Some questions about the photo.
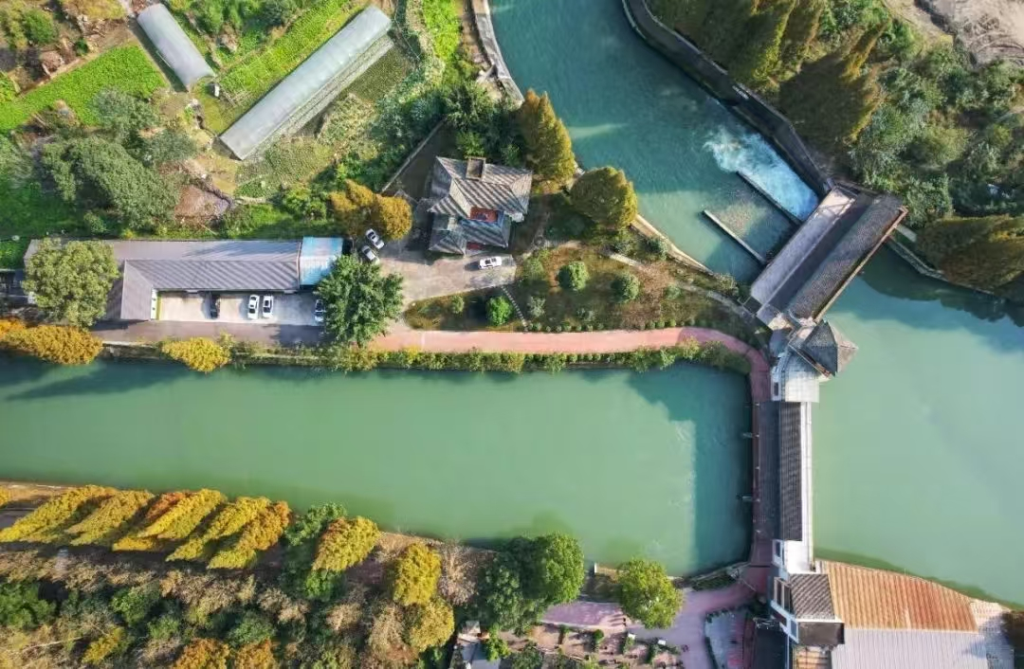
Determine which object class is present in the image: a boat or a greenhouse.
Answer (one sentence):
This aerial view contains a greenhouse.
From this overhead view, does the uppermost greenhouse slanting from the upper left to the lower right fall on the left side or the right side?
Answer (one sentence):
The uppermost greenhouse slanting from the upper left to the lower right appears in the left half of the scene.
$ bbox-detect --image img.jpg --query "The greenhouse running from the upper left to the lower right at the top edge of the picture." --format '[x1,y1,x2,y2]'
[138,0,211,86]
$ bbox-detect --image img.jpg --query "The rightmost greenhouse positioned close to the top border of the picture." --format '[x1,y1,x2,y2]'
[220,2,388,158]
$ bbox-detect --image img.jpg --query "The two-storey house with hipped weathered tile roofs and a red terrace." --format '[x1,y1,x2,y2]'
[428,156,532,255]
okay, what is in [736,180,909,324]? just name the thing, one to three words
building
